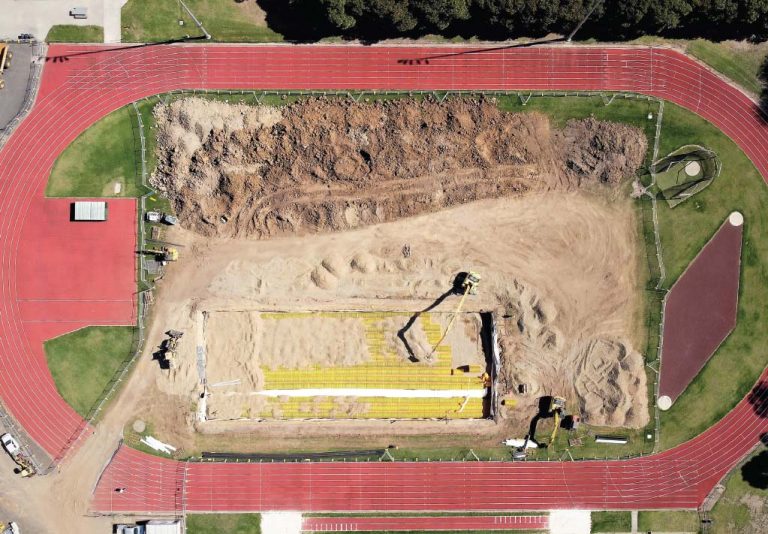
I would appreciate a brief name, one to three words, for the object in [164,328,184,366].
work vehicle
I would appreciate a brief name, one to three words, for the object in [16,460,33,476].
work vehicle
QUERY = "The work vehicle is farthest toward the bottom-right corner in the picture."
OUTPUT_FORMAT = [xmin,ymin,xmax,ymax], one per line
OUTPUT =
[546,394,569,447]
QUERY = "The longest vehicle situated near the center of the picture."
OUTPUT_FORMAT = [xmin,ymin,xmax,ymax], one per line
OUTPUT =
[425,270,483,361]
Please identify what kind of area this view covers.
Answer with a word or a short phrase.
sports ground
